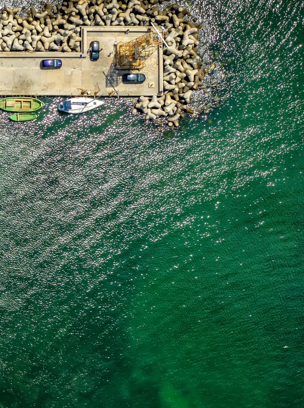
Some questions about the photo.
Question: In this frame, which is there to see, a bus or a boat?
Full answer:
This aerial view contains a boat.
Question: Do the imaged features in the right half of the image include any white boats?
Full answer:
No, no white boat is visible in the right half of the image.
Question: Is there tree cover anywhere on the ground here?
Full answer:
No, no tree cover is visible.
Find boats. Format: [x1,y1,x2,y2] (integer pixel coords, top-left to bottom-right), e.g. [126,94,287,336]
[10,113,40,121]
[56,92,105,114]
[0,96,46,113]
